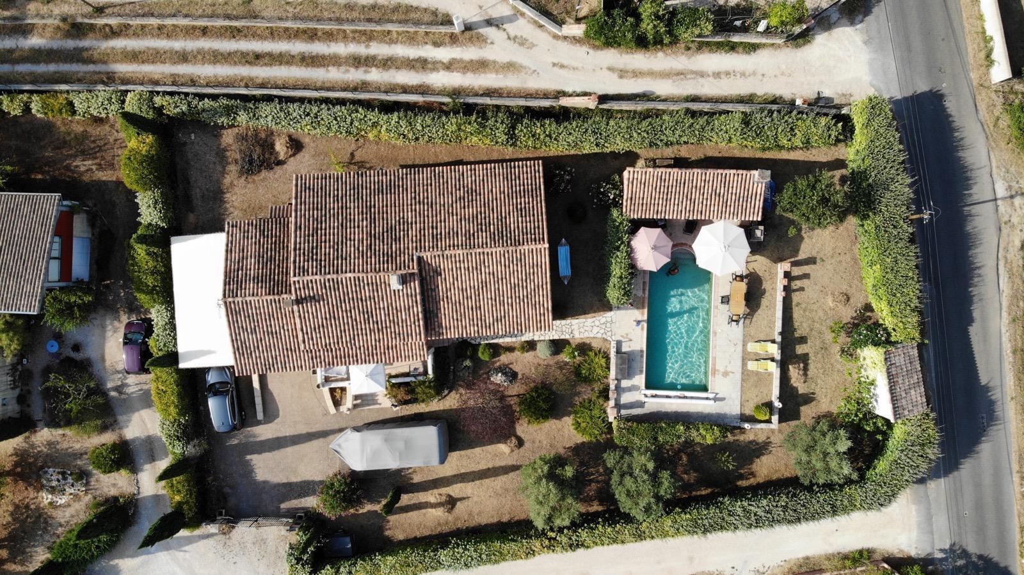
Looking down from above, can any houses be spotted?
Yes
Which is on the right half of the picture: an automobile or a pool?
pool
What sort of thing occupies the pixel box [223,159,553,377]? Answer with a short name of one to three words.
house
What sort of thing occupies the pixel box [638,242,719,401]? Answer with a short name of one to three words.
swimming pool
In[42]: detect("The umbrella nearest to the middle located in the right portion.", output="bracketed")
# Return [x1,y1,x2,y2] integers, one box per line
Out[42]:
[629,229,671,271]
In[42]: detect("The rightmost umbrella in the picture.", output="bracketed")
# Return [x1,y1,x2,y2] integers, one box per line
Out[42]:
[692,222,746,275]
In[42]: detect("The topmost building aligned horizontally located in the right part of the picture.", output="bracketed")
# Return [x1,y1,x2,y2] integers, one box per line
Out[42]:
[621,168,772,223]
